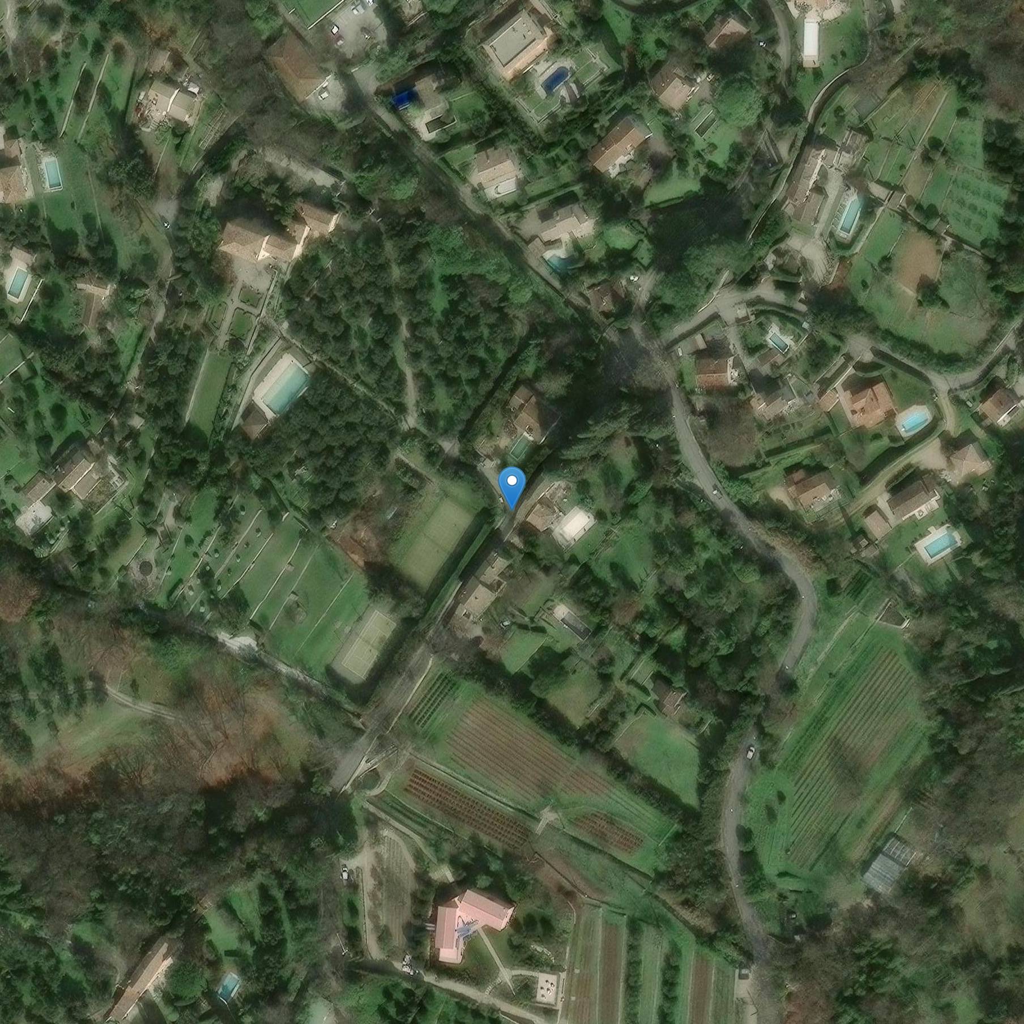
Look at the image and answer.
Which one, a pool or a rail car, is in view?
pool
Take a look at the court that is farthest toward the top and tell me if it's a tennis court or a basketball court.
tennis court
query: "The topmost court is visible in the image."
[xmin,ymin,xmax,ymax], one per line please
[394,489,478,592]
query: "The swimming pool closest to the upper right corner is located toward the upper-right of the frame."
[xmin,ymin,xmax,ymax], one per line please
[803,17,820,67]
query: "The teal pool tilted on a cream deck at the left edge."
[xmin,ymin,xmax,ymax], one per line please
[3,260,35,302]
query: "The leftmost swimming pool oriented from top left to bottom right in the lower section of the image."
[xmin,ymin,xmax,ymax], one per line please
[553,604,594,640]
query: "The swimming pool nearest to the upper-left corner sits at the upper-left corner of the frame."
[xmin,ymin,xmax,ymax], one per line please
[36,145,63,191]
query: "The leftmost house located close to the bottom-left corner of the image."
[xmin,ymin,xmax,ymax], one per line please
[105,940,173,1024]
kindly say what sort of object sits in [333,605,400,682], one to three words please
tennis court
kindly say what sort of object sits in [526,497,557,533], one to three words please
house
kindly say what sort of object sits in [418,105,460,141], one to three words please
swimming pool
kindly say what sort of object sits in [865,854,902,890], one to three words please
greenhouse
